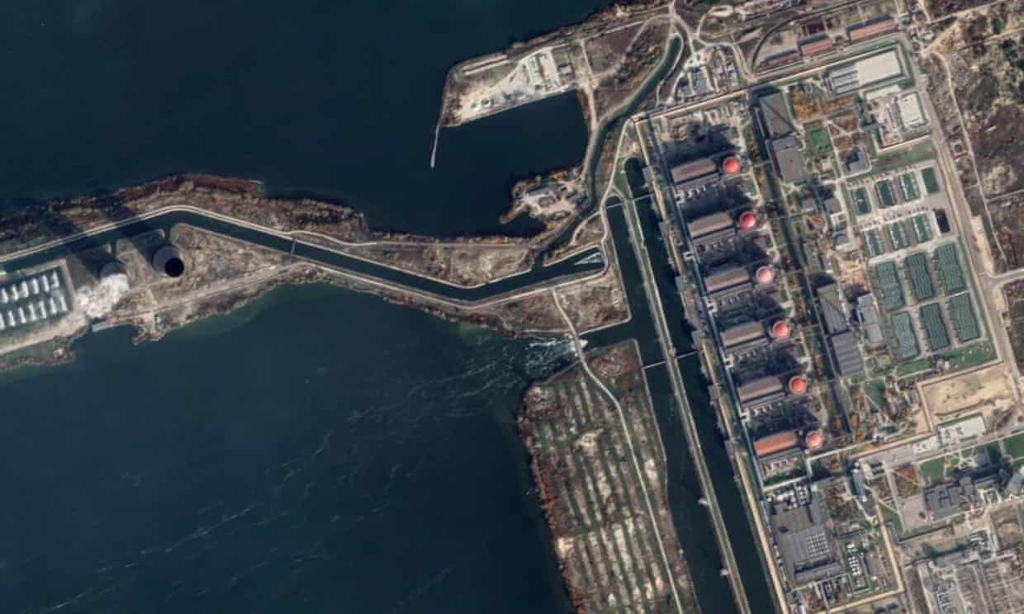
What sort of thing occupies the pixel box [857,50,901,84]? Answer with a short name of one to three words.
building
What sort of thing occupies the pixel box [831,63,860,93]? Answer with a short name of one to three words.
building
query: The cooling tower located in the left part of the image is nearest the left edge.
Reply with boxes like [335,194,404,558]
[99,259,133,294]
